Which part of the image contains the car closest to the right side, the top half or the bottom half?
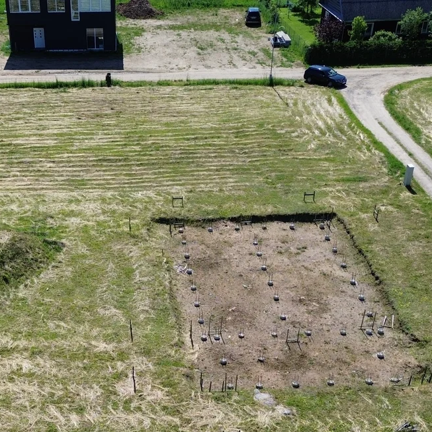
top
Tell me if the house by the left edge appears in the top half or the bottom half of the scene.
top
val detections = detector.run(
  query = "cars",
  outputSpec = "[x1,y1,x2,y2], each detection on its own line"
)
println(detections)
[242,1,263,20]
[301,61,349,86]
